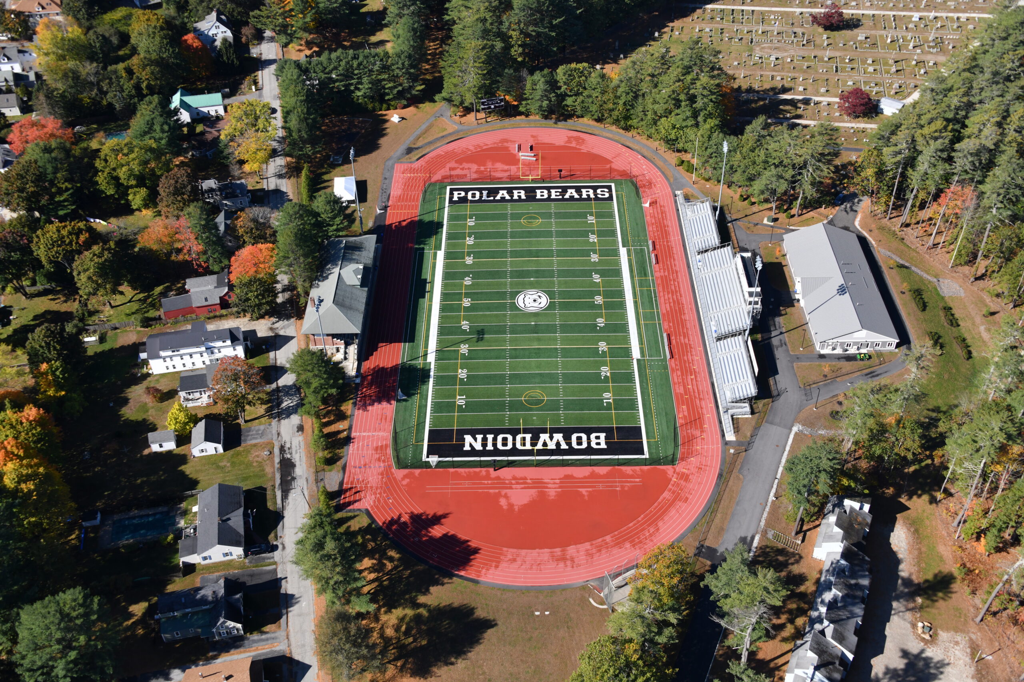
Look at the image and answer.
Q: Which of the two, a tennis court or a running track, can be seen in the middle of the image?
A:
running track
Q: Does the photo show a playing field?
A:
Yes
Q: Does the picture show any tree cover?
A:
Yes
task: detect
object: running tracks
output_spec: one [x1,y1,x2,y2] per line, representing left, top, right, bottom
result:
[332,126,728,592]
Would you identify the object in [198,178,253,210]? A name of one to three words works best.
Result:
house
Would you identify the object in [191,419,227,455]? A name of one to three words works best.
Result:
building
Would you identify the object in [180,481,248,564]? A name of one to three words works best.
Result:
house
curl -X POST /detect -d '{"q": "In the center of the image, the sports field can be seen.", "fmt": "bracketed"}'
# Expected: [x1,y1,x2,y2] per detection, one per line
[391,178,680,469]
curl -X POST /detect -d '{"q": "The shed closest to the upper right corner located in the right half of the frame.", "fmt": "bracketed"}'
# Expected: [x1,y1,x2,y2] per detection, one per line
[878,96,907,116]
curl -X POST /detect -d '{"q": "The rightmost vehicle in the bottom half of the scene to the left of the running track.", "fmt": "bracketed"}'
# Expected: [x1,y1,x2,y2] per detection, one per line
[247,544,272,557]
